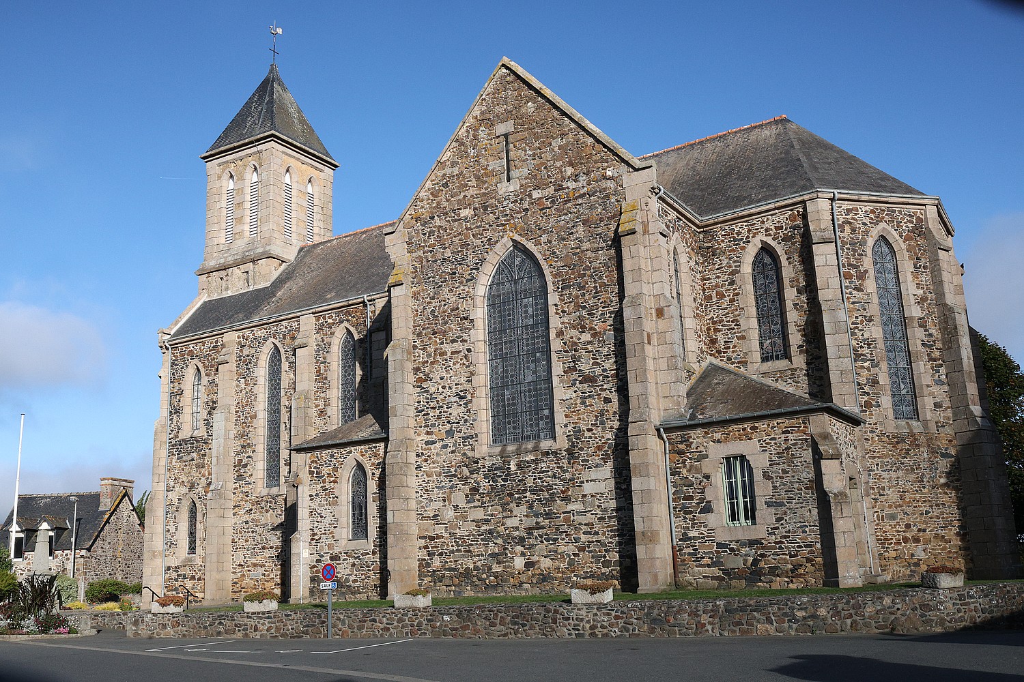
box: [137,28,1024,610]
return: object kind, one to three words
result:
church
